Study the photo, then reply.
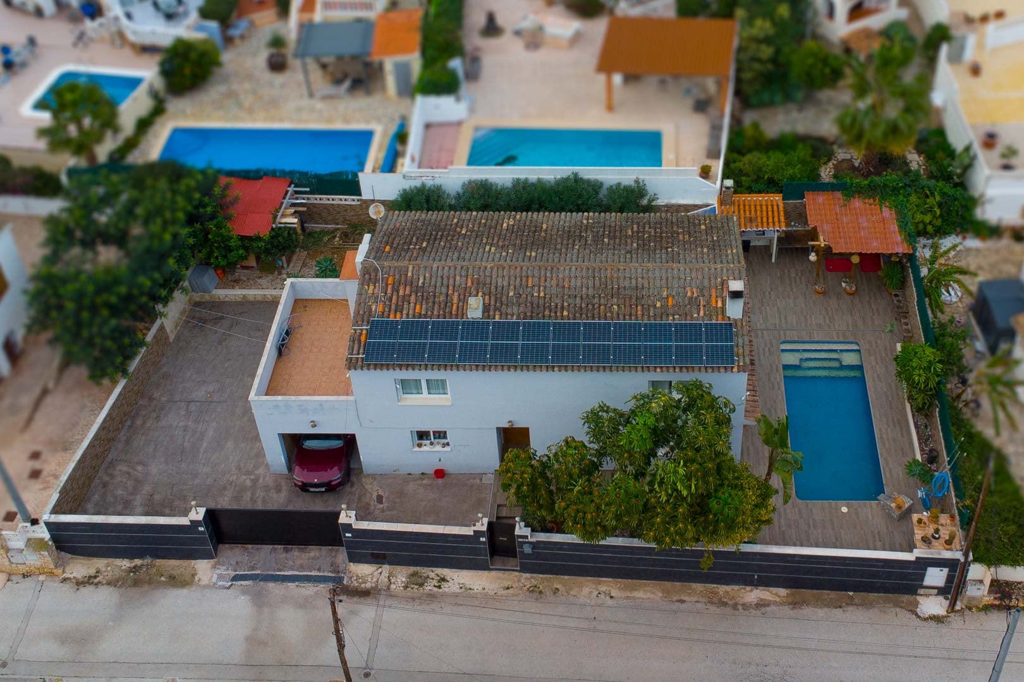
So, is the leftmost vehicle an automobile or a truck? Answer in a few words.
automobile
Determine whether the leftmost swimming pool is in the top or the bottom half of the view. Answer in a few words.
top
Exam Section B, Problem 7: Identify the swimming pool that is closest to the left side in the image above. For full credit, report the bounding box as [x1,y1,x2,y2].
[27,70,139,111]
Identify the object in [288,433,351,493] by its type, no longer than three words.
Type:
car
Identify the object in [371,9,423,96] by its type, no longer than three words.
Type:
shed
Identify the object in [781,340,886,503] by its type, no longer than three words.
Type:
swimming pool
